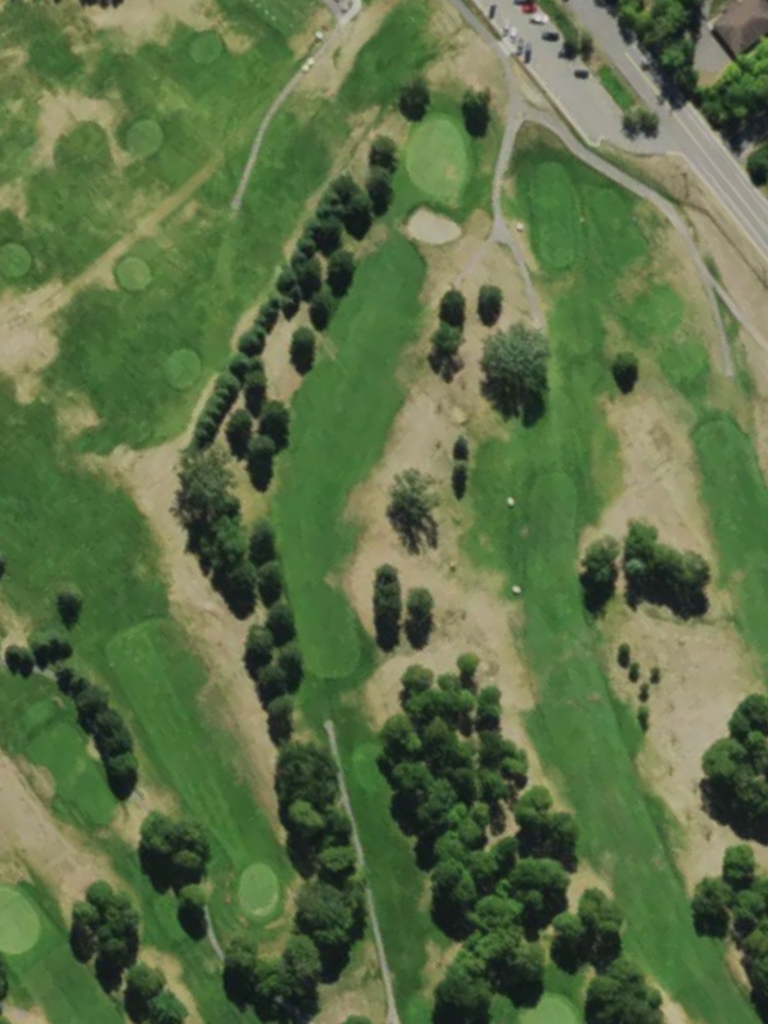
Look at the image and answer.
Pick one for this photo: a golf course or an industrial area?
golf course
